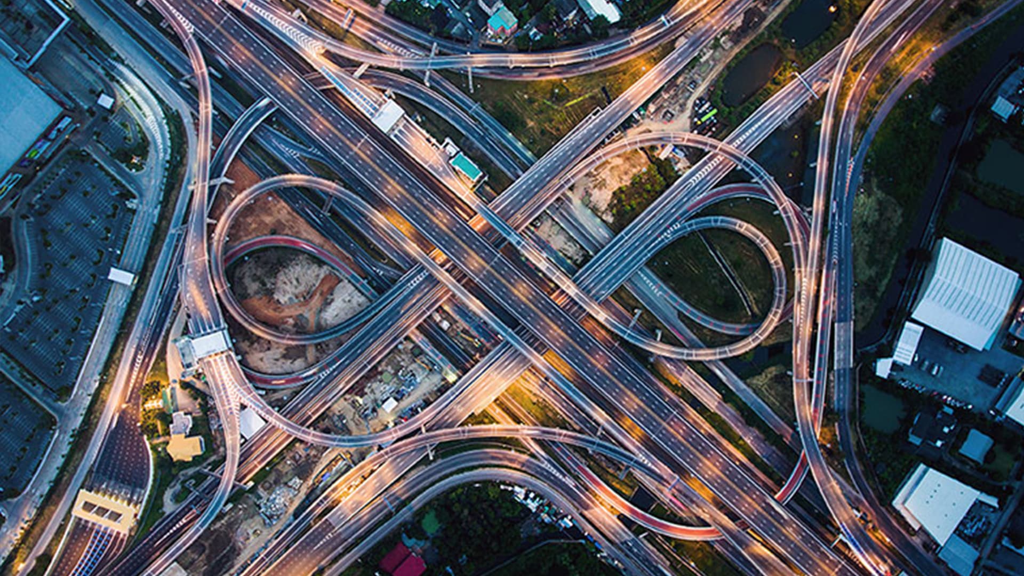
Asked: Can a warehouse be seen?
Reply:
Yes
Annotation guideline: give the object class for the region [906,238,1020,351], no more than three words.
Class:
warehouse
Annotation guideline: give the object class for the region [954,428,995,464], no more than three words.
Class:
house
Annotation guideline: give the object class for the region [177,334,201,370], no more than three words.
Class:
building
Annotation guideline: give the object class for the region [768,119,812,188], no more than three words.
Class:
pond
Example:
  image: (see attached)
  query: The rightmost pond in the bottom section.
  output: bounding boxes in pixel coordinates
[863,386,906,432]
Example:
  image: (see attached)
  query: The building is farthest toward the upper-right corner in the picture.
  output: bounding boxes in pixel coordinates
[994,68,1024,103]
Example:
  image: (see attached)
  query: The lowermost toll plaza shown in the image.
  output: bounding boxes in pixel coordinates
[71,481,142,535]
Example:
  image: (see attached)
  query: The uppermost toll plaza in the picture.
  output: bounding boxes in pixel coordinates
[370,98,409,138]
